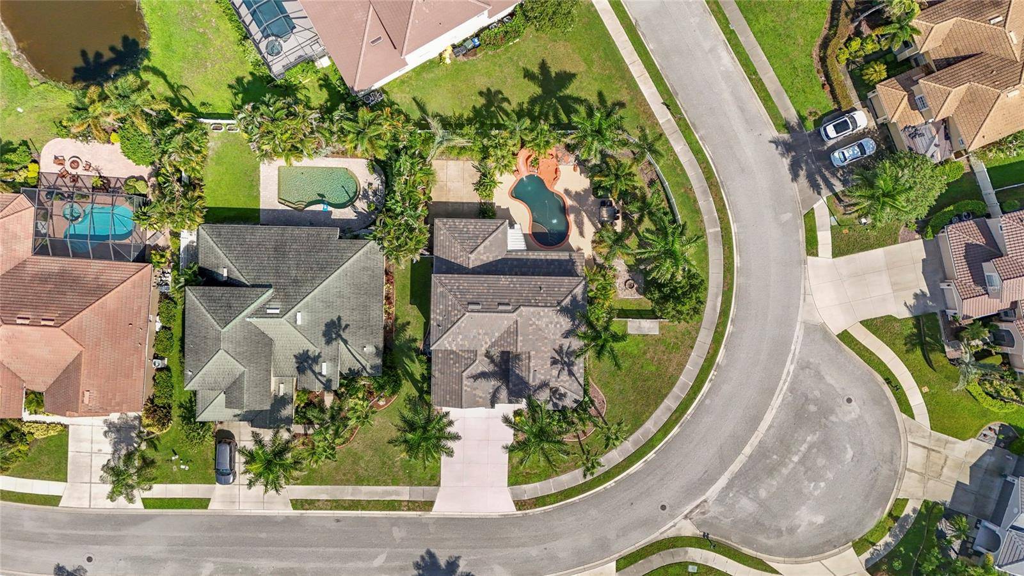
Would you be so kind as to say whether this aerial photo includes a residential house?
Yes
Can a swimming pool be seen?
Yes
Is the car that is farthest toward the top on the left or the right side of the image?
right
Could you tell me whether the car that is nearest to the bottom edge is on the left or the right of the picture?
left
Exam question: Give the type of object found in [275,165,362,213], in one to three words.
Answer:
swimming pool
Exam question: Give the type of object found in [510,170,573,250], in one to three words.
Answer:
swimming pool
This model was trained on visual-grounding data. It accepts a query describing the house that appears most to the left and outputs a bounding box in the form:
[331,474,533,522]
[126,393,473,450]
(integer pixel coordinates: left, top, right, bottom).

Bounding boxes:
[0,193,160,419]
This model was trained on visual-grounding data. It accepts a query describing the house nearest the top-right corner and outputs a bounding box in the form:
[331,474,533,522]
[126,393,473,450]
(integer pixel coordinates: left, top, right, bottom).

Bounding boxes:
[867,0,1024,156]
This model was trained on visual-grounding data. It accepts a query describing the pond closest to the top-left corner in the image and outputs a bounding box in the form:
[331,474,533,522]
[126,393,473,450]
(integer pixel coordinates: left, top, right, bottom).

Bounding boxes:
[2,0,144,84]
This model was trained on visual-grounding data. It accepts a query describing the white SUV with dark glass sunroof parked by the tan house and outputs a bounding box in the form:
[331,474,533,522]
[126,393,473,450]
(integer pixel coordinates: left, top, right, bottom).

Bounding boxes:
[817,113,866,142]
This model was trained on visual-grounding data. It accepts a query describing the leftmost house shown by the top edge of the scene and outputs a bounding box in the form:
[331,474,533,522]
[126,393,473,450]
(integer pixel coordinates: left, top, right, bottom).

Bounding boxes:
[301,0,525,102]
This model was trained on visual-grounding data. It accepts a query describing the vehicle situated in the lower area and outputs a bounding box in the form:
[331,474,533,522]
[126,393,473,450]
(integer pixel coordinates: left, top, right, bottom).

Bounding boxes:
[214,437,239,483]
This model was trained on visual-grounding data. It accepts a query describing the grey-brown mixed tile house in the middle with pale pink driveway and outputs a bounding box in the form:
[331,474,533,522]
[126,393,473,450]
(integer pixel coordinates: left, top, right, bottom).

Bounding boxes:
[429,218,588,411]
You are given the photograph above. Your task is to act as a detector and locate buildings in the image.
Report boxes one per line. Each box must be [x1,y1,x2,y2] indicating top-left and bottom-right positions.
[301,0,525,102]
[867,0,1024,156]
[0,193,160,419]
[429,218,588,411]
[933,210,1024,405]
[975,469,1024,576]
[183,224,384,428]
